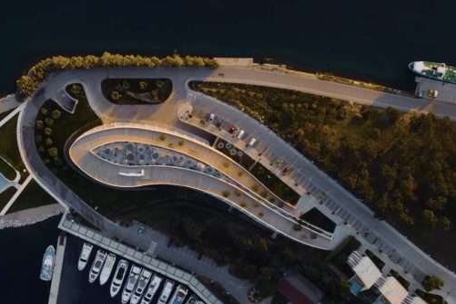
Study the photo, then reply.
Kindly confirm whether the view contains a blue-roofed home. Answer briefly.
No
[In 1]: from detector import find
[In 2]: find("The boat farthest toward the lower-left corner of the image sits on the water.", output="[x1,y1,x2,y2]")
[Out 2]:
[38,246,52,283]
